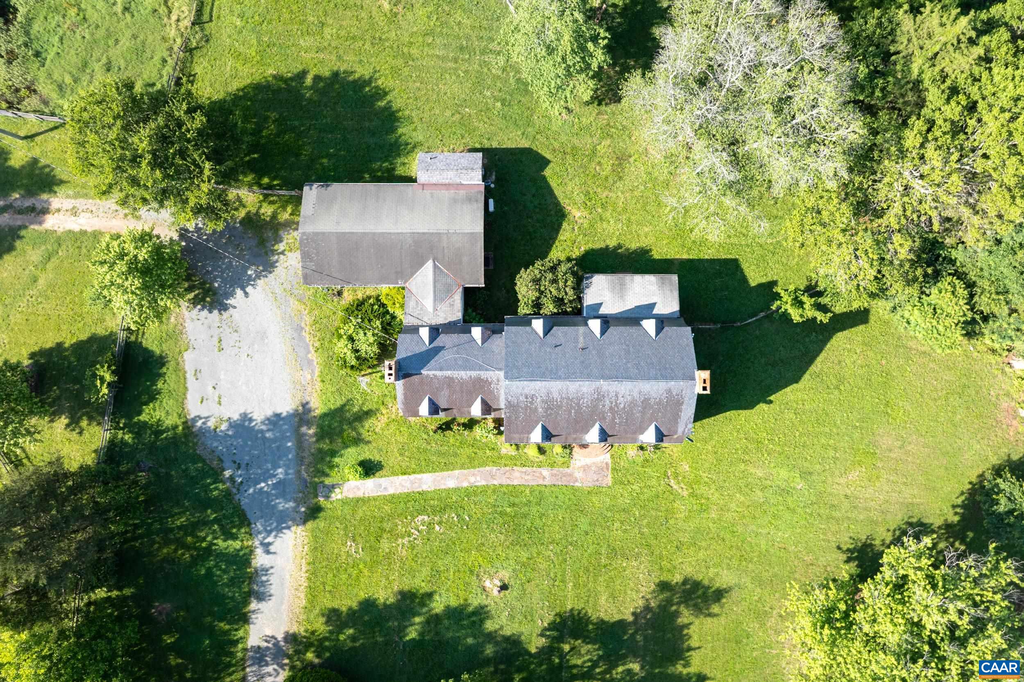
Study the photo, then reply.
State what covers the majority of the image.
grass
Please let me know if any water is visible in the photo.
No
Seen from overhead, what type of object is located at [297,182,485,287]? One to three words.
barn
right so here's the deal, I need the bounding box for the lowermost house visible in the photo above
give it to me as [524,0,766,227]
[504,315,710,446]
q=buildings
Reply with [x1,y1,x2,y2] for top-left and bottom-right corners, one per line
[297,182,485,287]
[504,315,710,446]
